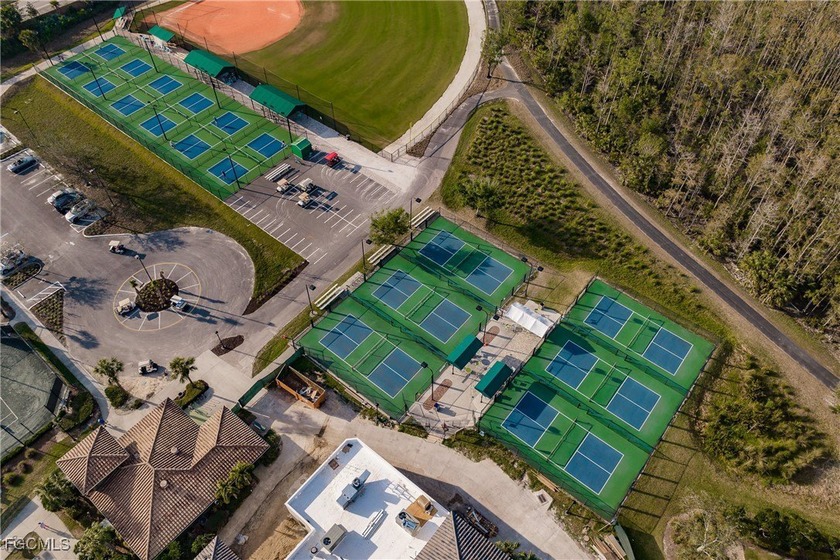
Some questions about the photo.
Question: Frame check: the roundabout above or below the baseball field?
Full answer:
In the image, the roundabout appears below the baseball field.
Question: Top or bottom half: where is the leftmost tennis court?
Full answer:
Seen from above, the leftmost tennis court lies in the bottom half of the view.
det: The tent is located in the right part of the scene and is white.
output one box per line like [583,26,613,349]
[503,294,559,346]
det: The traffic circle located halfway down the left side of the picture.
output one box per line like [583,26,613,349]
[113,262,202,331]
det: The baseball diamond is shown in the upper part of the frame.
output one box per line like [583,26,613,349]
[91,0,486,160]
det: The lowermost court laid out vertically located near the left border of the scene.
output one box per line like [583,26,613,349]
[0,313,60,461]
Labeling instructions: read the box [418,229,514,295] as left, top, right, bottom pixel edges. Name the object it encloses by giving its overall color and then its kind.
blue sports court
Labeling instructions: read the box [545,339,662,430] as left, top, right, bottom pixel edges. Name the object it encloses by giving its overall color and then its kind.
blue sports court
